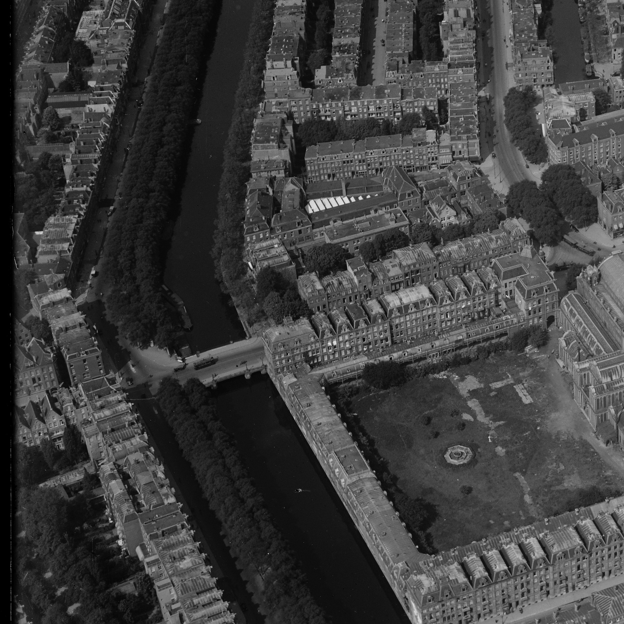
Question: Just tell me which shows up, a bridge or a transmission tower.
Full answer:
It is a bridge that can be seen here.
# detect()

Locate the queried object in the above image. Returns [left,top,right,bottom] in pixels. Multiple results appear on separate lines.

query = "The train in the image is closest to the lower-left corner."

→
[192,356,214,369]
